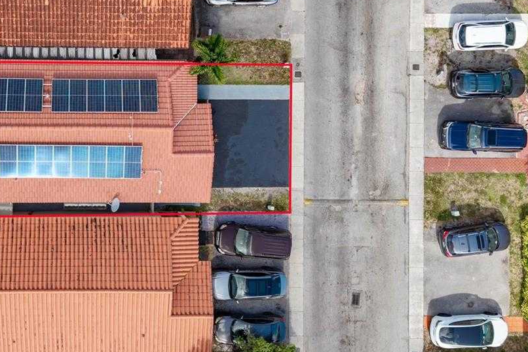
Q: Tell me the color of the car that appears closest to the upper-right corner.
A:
white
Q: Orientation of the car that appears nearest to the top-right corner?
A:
from left to right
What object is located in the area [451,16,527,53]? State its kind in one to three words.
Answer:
car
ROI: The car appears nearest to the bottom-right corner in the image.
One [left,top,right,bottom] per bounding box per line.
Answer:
[428,312,504,352]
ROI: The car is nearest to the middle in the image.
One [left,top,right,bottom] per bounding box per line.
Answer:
[213,221,292,259]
